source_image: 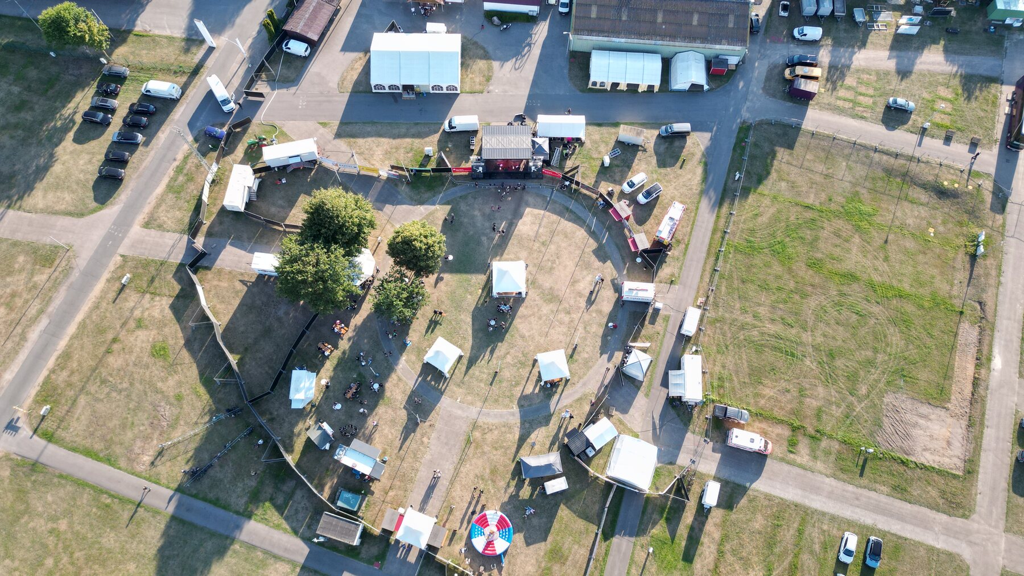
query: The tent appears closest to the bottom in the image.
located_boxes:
[396,507,439,551]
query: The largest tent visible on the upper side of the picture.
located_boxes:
[369,32,462,101]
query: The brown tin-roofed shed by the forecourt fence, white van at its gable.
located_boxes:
[283,0,348,46]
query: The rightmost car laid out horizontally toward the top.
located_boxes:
[885,98,915,114]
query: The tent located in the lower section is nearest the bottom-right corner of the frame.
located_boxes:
[599,434,658,492]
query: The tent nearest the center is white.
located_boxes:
[489,261,530,302]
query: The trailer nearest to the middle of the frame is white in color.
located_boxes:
[620,280,659,302]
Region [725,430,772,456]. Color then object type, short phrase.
white vehicle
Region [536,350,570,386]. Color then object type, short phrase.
white tent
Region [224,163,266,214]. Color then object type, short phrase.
white trailer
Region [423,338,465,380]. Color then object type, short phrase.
white tent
